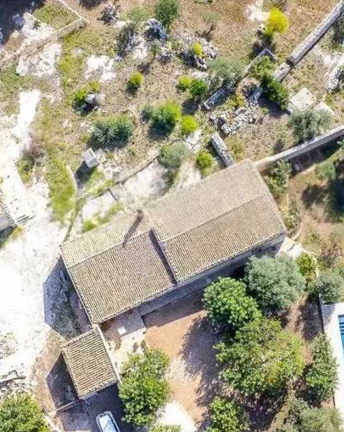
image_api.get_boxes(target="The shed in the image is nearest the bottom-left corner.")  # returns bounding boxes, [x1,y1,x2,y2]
[61,324,121,400]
